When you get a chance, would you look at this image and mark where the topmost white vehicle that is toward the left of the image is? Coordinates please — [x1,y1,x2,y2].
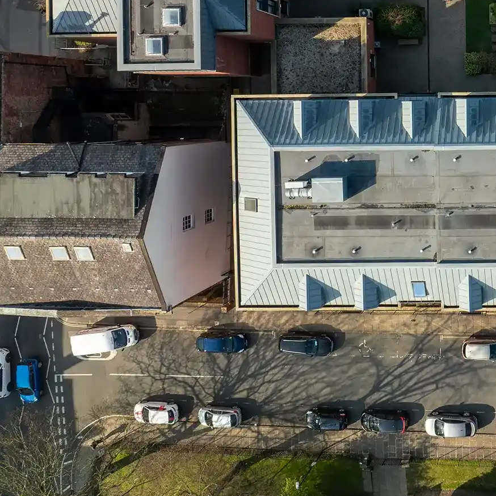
[66,325,139,358]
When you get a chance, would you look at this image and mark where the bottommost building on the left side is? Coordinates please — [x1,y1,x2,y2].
[0,139,230,316]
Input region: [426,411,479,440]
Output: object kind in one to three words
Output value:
car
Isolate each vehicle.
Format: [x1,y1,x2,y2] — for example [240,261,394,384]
[15,357,47,402]
[135,399,181,427]
[66,325,139,358]
[197,331,250,357]
[463,336,496,360]
[362,408,410,435]
[0,346,16,401]
[426,411,479,440]
[279,332,334,360]
[199,403,244,431]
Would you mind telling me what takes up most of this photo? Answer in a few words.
buildings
